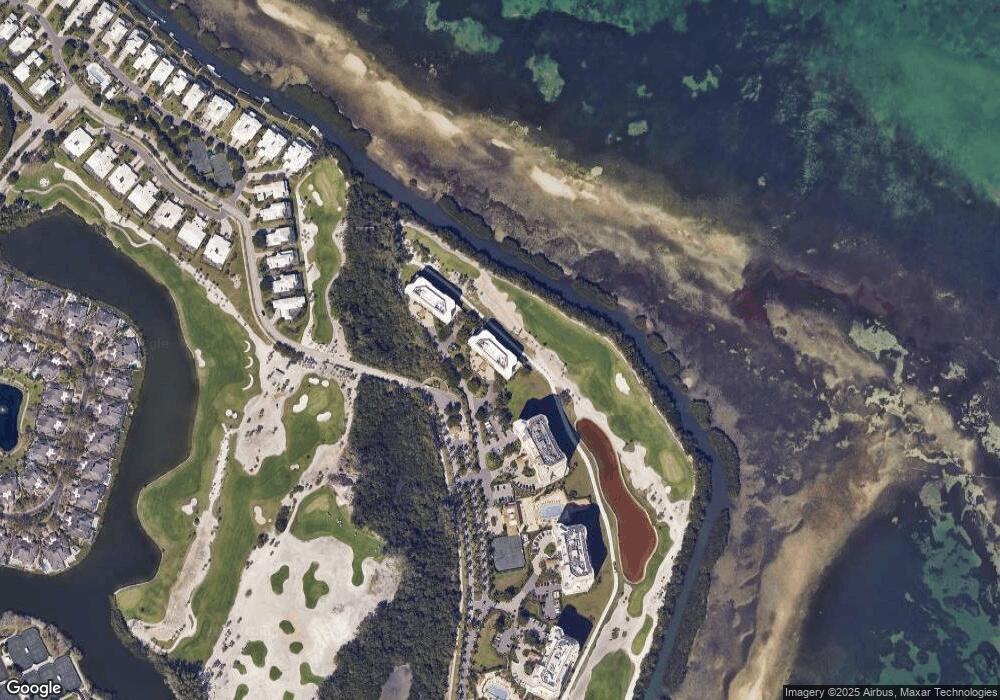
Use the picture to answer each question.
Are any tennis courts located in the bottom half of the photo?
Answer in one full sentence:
Yes, I can see a tennis court in the bottom half of the photo.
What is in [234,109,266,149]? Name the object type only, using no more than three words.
house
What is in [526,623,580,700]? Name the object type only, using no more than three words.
building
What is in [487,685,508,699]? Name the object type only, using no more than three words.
swimming pool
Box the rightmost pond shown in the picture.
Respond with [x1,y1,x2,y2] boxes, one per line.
[577,419,657,583]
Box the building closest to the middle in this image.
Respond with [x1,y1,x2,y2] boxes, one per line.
[467,329,519,381]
